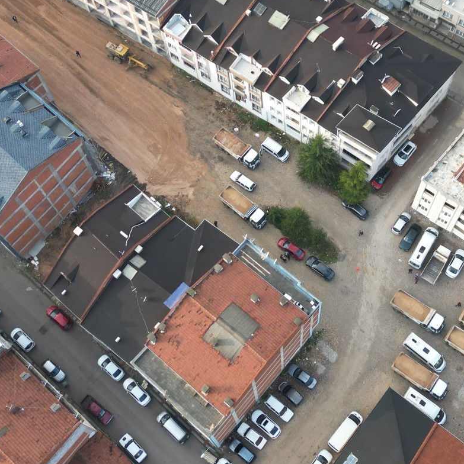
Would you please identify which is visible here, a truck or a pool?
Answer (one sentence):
It is a truck that can be seen here.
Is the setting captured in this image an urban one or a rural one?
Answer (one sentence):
The land in this view is best described as urban.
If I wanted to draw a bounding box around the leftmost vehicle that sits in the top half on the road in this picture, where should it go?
[105,40,152,73]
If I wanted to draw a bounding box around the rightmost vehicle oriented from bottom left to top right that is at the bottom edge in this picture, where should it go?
[326,408,365,452]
